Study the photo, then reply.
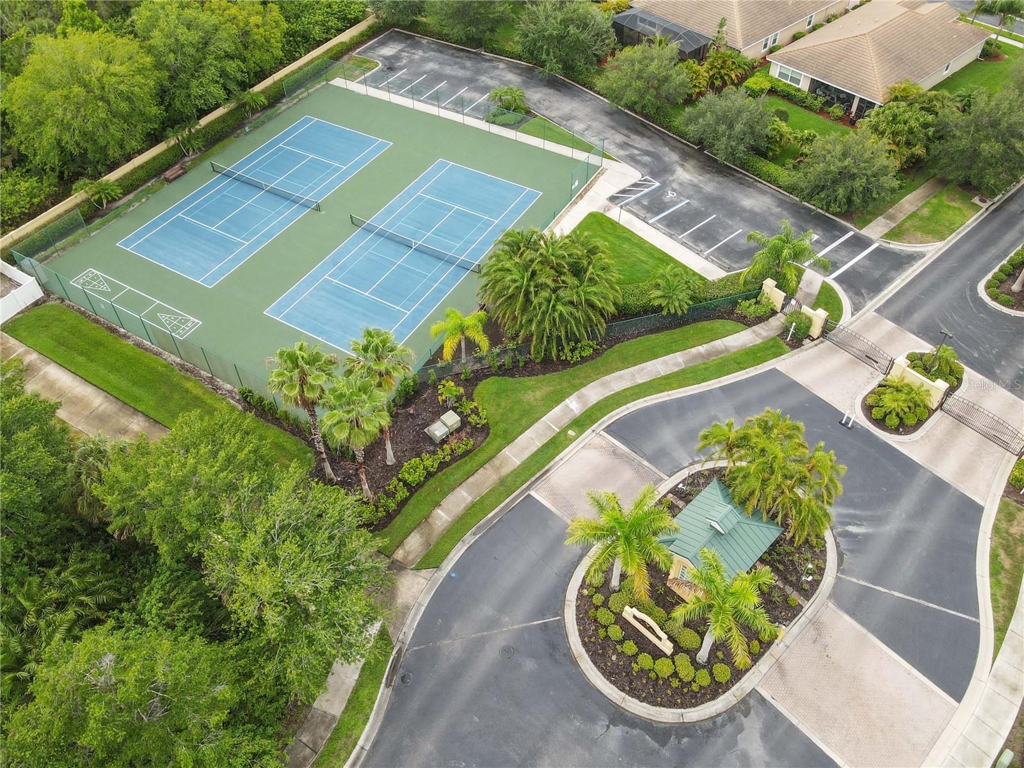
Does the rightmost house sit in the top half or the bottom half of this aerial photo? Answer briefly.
top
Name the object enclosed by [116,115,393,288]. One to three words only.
tennis court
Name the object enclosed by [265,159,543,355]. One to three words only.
tennis court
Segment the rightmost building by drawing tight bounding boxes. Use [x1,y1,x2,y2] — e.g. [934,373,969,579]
[765,0,988,123]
